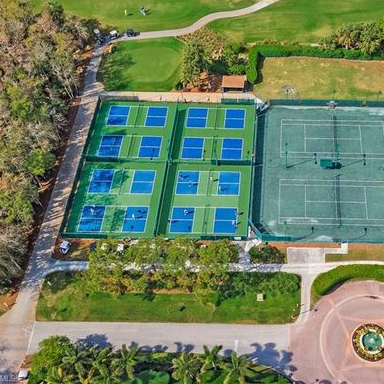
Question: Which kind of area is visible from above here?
sports ground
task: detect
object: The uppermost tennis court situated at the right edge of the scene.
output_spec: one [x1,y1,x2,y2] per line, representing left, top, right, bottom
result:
[255,105,384,169]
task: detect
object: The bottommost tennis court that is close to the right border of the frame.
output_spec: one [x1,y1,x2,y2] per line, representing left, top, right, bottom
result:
[252,166,384,246]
